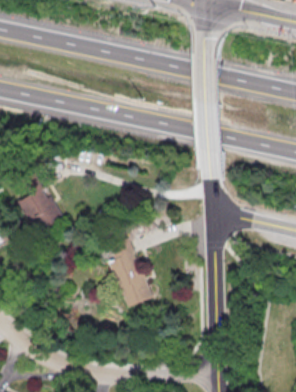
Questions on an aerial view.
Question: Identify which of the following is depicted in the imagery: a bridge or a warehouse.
bridge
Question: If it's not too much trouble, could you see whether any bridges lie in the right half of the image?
Yes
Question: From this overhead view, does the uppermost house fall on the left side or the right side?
left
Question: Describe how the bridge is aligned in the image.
vertically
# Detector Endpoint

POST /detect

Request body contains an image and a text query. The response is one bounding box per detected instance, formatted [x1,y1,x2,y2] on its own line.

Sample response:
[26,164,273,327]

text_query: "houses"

[112,236,156,306]
[18,179,64,226]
